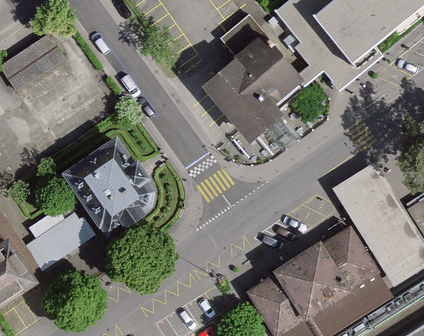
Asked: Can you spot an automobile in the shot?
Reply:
Yes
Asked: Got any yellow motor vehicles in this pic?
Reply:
No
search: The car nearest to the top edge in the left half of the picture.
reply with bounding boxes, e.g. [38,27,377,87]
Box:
[111,0,132,18]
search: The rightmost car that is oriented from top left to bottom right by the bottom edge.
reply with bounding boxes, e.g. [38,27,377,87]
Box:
[196,297,218,320]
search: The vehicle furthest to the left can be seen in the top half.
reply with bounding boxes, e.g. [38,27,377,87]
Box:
[89,31,112,56]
